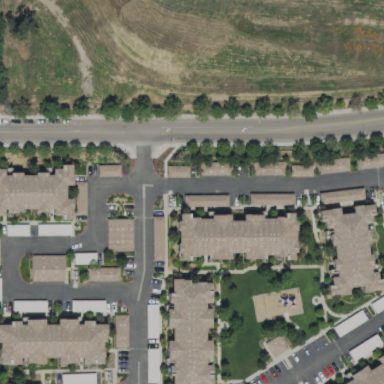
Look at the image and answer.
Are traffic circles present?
No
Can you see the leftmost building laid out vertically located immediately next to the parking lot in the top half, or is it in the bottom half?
bottom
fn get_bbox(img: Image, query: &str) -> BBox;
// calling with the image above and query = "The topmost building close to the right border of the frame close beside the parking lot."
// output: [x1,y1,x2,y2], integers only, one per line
[320,206,382,298]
